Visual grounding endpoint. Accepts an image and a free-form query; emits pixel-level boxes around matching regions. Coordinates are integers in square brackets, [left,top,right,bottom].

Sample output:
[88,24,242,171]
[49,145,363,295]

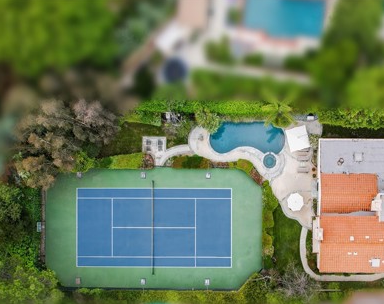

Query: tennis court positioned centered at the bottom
[45,168,261,289]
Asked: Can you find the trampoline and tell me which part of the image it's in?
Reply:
top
